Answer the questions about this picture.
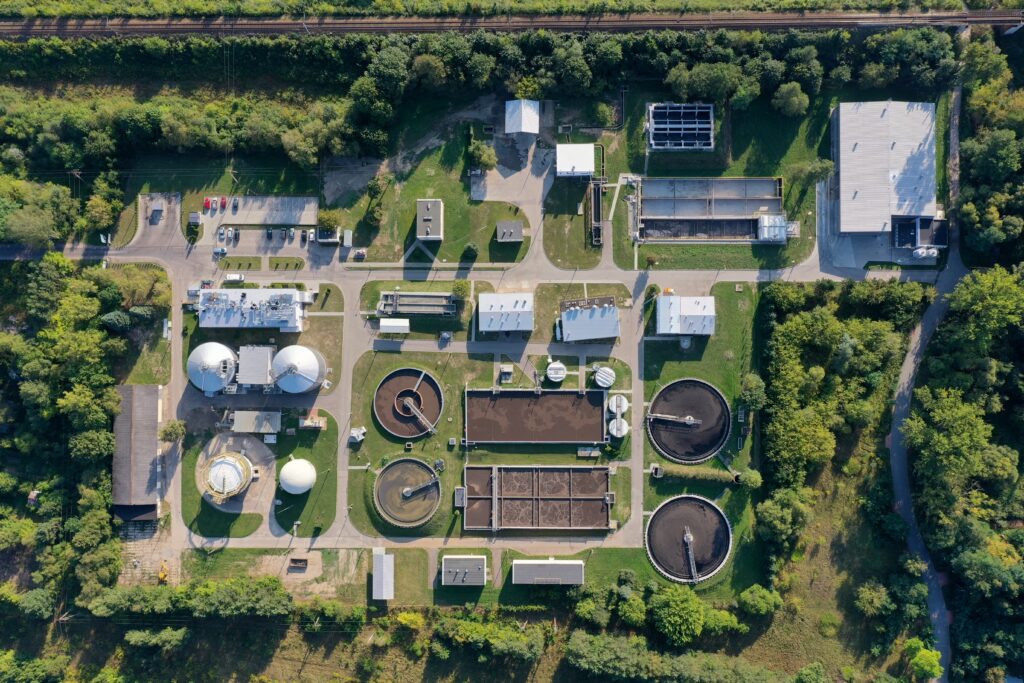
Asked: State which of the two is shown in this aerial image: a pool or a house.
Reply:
house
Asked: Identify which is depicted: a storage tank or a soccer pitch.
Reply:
storage tank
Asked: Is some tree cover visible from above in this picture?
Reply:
Yes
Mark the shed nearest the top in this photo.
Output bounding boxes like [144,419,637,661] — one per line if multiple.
[506,99,551,139]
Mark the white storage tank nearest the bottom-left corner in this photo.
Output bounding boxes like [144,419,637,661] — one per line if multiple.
[199,446,268,505]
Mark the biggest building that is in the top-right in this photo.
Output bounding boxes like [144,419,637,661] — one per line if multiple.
[830,98,936,234]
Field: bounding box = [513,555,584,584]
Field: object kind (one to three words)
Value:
building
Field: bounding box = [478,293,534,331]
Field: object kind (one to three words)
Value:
house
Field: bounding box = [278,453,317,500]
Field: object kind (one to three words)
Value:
storage tank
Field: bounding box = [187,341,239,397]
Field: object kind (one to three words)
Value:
storage tank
